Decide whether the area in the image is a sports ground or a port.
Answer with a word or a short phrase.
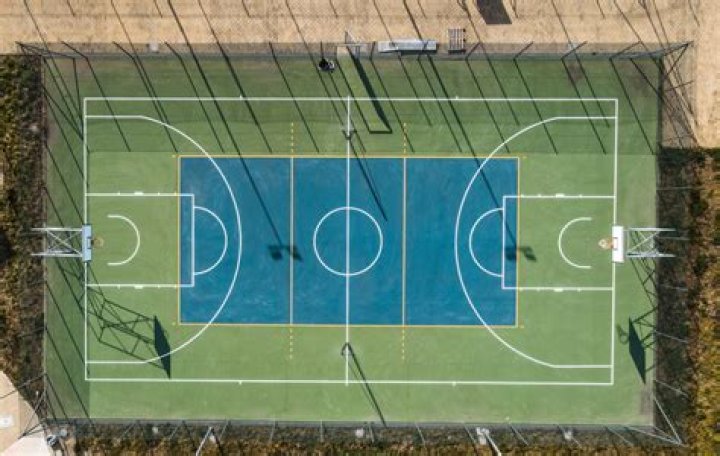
sports ground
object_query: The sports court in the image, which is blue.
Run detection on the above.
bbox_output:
[173,124,525,358]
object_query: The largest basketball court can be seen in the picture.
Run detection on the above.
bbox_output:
[45,58,659,424]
